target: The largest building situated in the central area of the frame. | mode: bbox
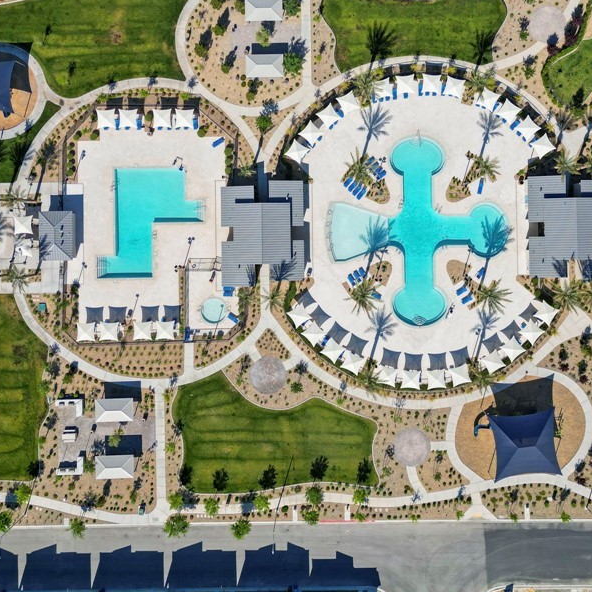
[221,181,304,286]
